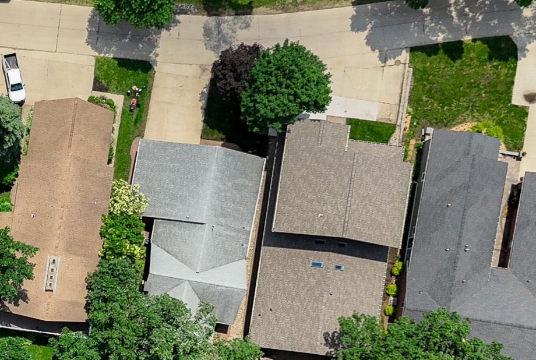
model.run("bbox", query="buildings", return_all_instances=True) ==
[389,128,536,360]
[240,119,412,358]
[0,98,114,341]
[128,139,267,343]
